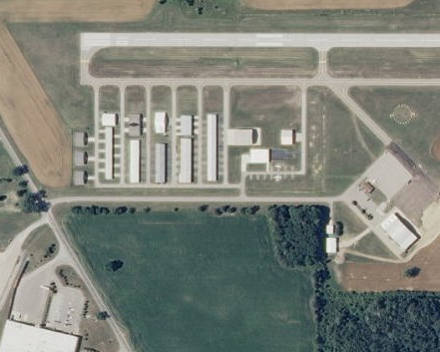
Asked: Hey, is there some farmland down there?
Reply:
Yes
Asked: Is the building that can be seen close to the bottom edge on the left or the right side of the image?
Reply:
left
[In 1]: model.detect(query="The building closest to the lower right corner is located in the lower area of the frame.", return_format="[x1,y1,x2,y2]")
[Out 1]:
[382,212,417,248]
